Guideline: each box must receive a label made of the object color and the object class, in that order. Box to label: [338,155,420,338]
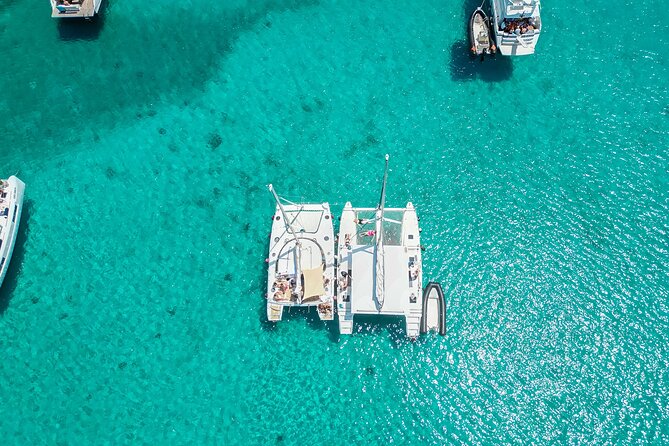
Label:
white boat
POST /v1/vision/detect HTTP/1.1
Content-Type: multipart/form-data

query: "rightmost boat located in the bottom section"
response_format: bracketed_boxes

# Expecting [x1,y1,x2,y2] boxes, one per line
[420,282,446,336]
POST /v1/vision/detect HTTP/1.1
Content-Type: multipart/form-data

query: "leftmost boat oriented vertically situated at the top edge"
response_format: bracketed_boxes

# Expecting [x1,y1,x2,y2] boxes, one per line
[471,6,497,63]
